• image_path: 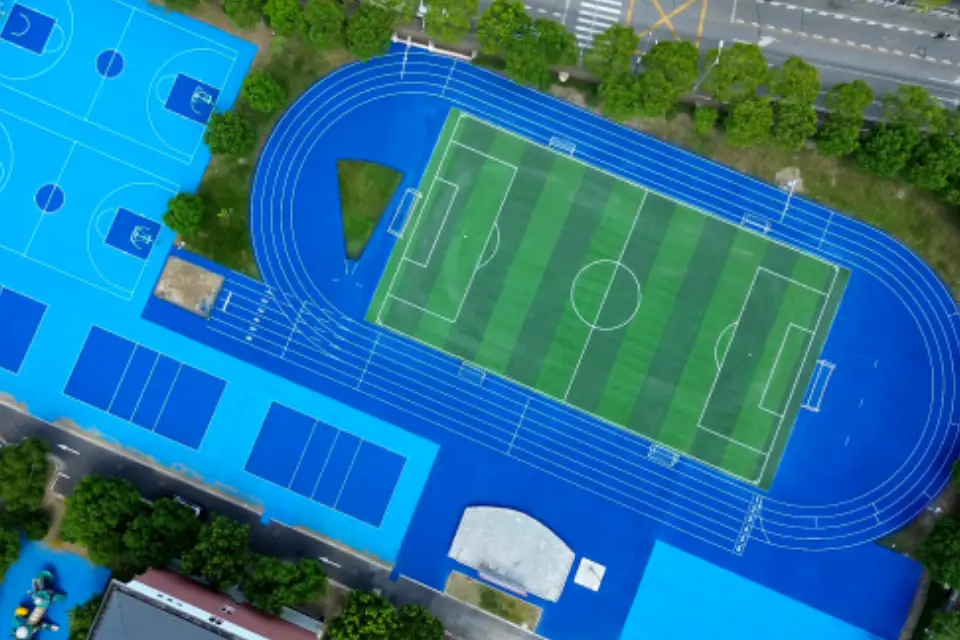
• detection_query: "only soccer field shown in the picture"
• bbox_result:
[361,108,851,490]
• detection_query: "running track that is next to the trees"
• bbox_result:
[188,43,960,554]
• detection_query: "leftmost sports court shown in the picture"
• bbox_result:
[0,286,50,374]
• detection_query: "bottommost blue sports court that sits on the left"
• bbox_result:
[244,401,408,528]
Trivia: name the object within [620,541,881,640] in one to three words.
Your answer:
sports court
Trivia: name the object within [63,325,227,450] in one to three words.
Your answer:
sports court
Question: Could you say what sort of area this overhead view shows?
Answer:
sports ground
